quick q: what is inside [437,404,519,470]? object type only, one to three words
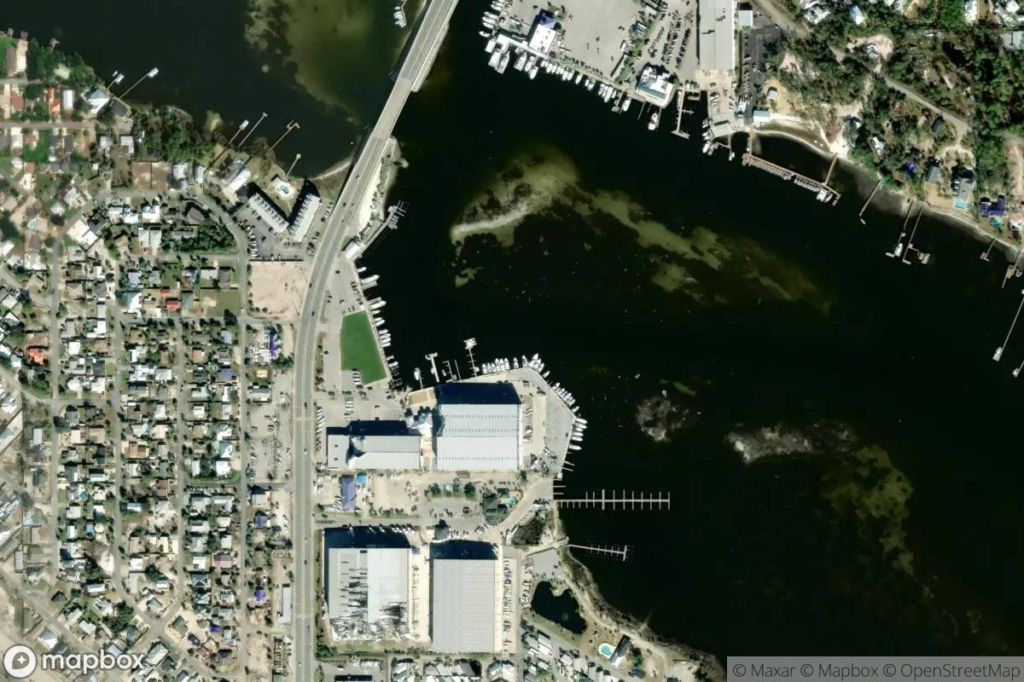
shed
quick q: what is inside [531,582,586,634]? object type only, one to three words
pond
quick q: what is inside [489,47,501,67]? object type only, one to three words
boat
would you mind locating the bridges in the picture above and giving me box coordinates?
[368,72,413,146]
